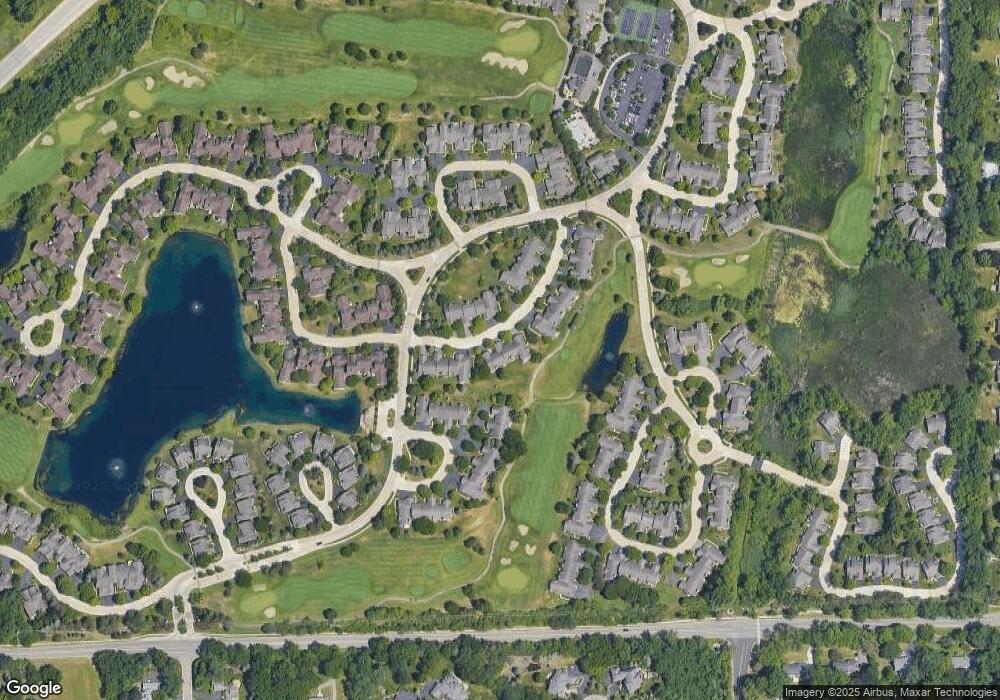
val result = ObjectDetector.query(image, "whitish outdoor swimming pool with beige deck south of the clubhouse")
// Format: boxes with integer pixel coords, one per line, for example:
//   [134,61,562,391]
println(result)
[566,110,599,149]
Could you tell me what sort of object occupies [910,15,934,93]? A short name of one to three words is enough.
house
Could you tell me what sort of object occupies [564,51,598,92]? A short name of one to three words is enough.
building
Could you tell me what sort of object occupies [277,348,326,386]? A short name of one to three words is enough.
house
